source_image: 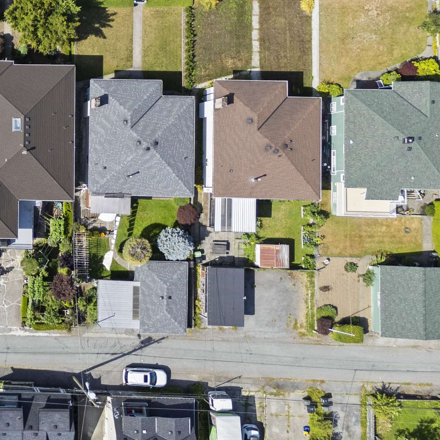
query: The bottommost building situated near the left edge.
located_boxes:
[0,383,75,440]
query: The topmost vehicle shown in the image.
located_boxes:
[122,367,166,388]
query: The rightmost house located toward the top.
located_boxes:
[323,80,440,217]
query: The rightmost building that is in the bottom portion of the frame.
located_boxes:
[370,265,440,340]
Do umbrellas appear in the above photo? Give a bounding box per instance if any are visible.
[98,213,116,226]
[102,251,115,270]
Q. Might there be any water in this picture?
No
